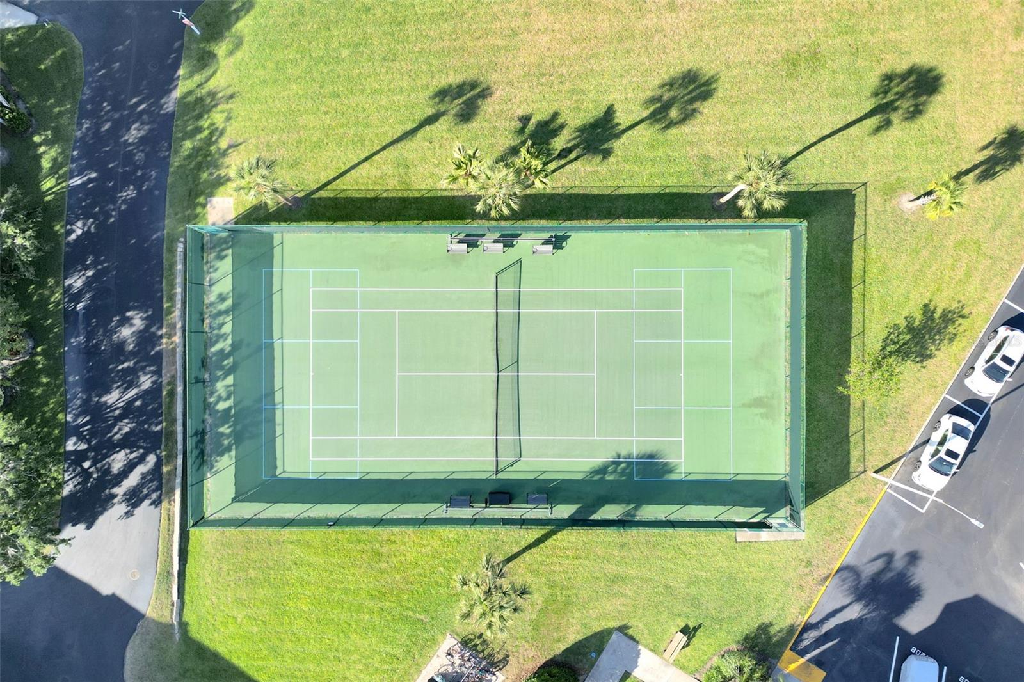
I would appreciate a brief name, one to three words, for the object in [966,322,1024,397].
car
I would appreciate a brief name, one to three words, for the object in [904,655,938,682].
car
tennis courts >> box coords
[206,232,791,517]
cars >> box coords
[904,655,938,682]
[916,413,975,490]
[966,322,1024,397]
